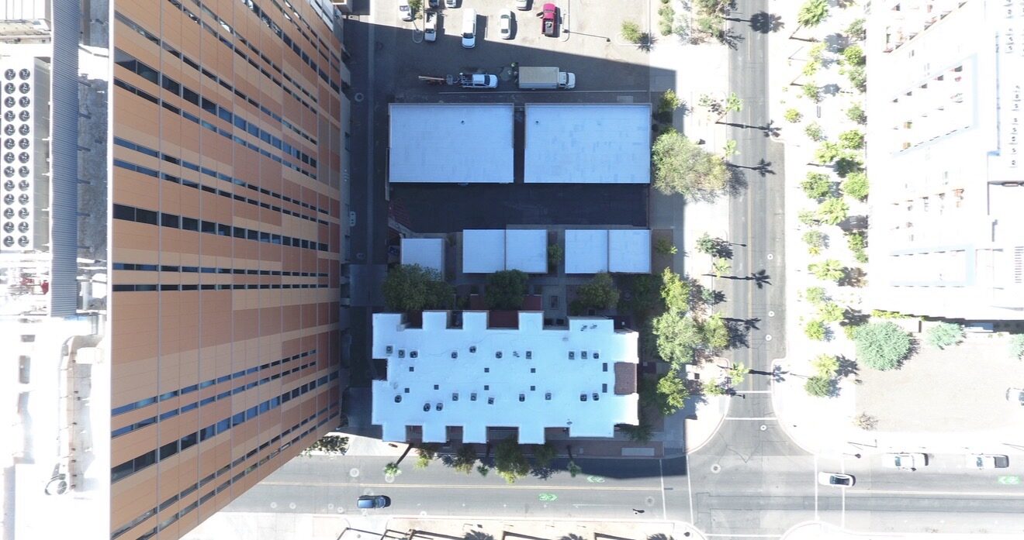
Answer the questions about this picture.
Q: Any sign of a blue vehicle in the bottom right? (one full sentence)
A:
No, no blue vehicle can be made out in the bottom right.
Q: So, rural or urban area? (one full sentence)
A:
It looks urban.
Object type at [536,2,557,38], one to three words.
truck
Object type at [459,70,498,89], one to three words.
vehicle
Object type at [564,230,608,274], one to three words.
house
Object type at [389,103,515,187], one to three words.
building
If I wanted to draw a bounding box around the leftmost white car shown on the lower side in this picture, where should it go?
[817,470,856,488]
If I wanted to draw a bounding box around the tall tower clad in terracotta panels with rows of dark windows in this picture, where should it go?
[0,0,341,540]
